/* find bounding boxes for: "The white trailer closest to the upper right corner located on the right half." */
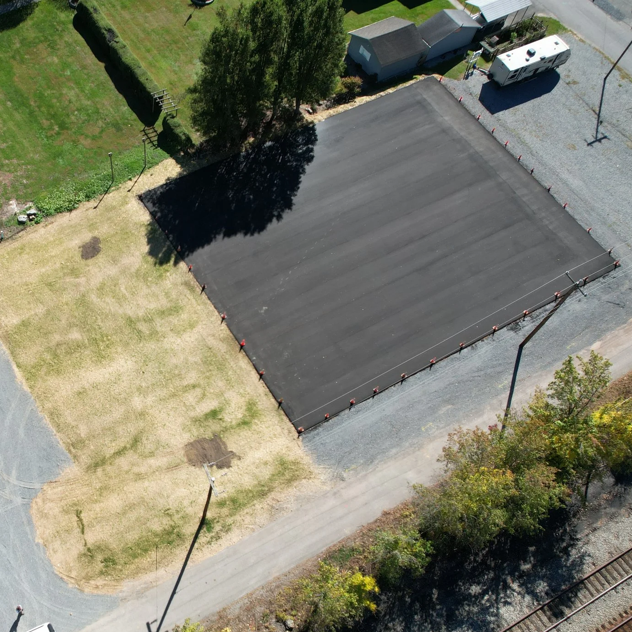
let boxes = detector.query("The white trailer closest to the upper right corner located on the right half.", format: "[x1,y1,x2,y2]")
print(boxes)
[482,36,568,89]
